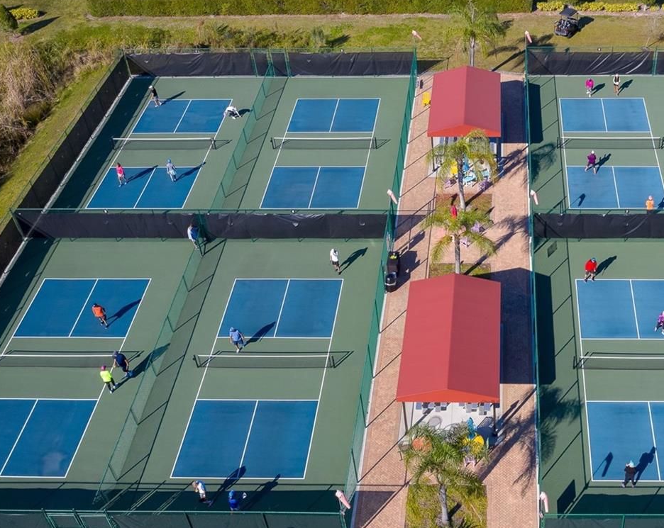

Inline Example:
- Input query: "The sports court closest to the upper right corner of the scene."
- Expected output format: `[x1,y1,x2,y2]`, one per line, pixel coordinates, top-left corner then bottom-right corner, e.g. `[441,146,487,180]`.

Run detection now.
[528,75,664,213]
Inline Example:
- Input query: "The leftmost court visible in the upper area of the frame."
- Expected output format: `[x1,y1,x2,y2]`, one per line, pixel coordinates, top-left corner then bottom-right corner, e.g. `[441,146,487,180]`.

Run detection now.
[30,77,274,238]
